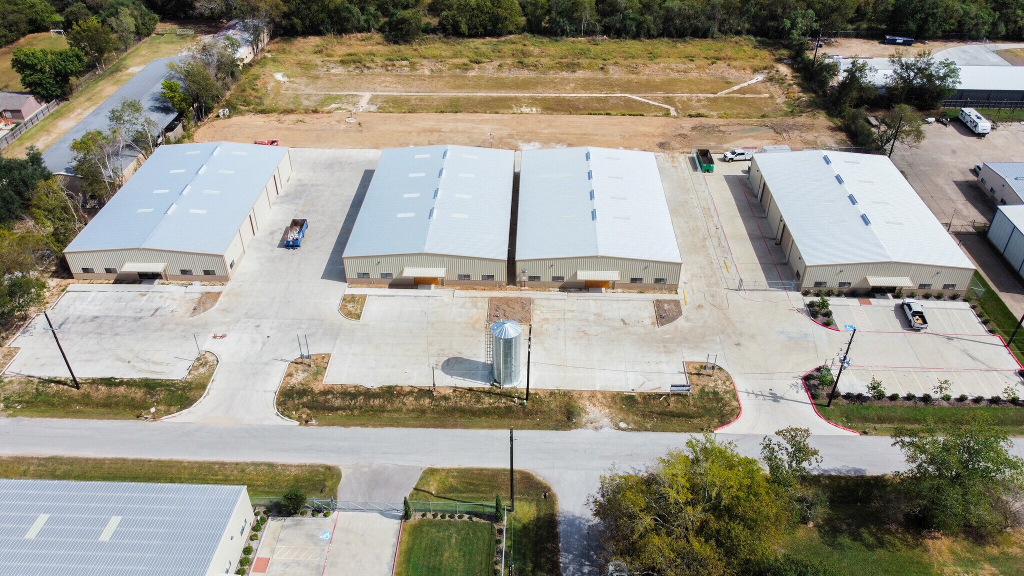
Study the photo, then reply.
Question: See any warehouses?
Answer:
Yes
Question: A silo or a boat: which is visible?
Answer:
silo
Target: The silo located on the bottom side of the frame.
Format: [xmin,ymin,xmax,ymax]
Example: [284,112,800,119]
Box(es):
[483,321,525,394]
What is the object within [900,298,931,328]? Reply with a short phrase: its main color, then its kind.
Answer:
white truck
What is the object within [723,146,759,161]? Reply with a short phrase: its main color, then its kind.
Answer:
white vehicle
